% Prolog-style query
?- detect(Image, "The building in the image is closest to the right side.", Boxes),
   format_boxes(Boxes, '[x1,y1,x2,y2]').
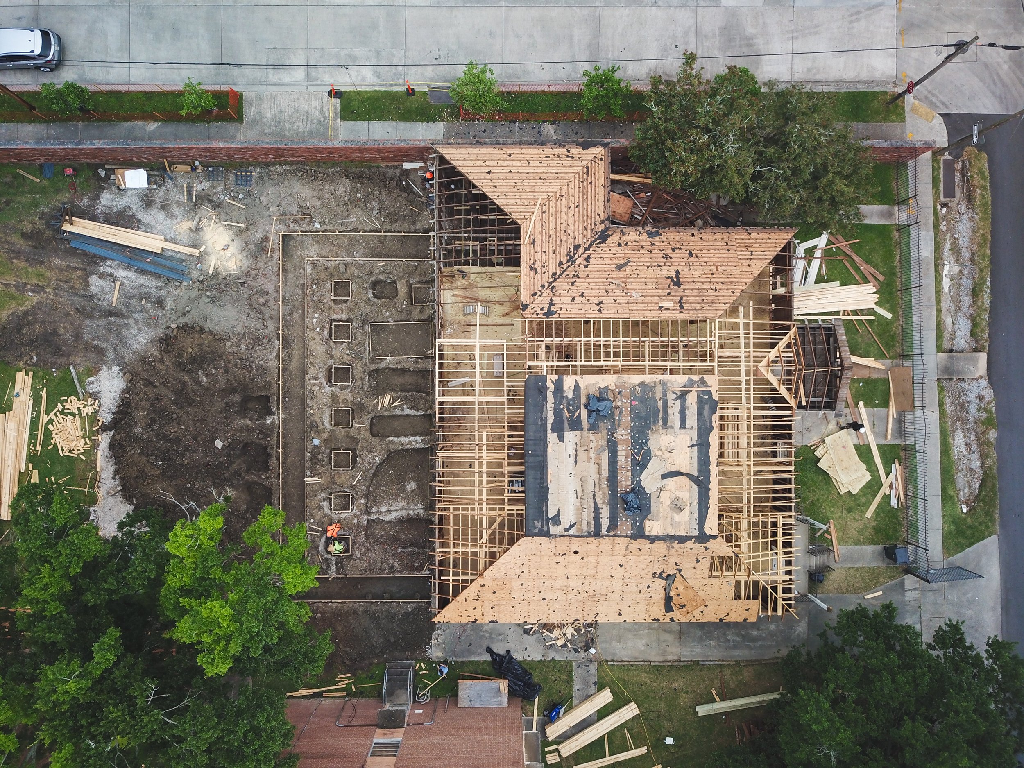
[425,142,853,624]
